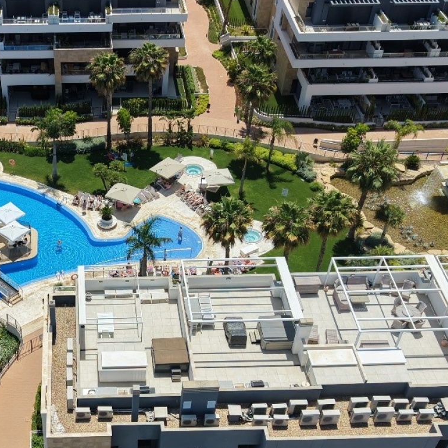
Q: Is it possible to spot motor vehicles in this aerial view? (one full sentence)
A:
No, the frame has no motor vehicle in it.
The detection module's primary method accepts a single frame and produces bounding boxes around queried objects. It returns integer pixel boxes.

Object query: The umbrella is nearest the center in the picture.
[197,170,238,193]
